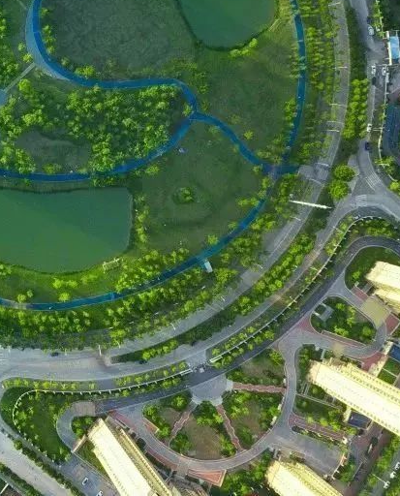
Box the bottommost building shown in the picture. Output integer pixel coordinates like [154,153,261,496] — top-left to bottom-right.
[268,463,343,496]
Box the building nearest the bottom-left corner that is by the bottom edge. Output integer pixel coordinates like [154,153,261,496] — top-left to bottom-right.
[88,419,191,496]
